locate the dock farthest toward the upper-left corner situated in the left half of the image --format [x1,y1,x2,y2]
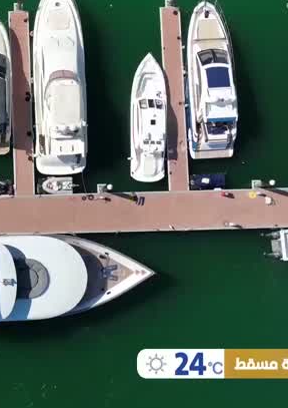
[8,10,35,194]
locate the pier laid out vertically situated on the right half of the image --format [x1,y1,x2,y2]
[159,8,189,190]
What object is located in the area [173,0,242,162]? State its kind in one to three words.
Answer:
boat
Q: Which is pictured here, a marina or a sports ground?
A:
marina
